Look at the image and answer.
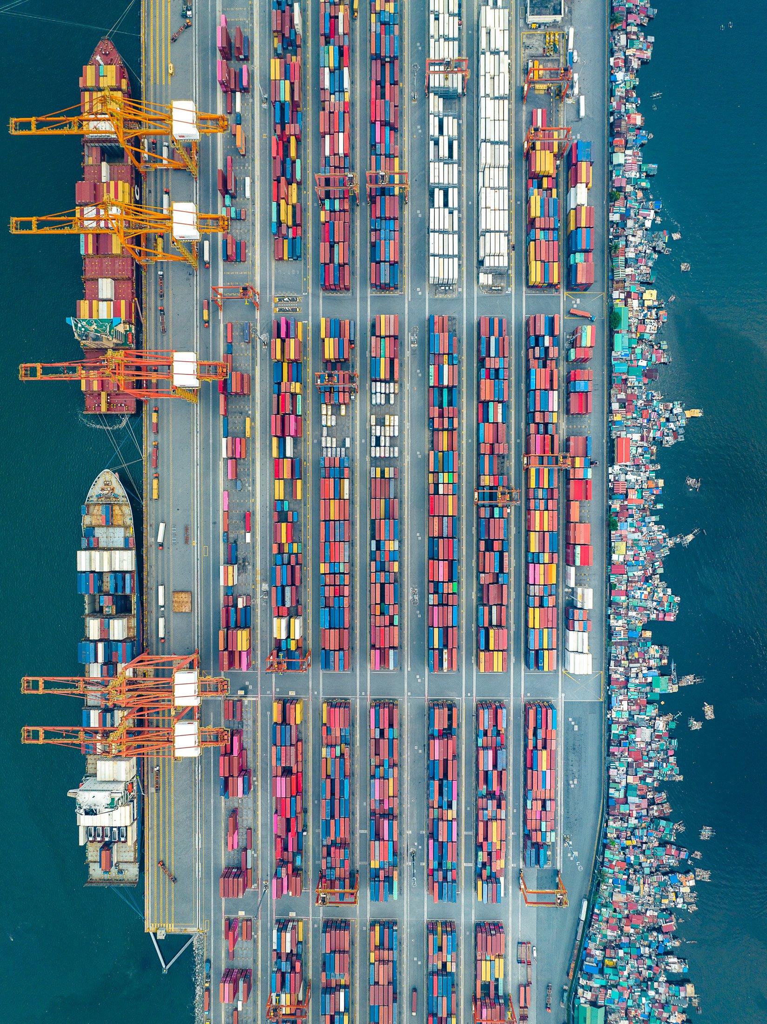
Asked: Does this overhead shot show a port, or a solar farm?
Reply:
port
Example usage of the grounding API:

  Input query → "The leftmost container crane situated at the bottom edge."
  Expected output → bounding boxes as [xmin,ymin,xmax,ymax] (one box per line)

[267,979,312,1019]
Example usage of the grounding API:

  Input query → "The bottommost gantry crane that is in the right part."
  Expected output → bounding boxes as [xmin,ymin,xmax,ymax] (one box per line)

[472,992,518,1024]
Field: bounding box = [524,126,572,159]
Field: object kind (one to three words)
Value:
container crane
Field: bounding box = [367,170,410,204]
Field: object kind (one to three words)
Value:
container crane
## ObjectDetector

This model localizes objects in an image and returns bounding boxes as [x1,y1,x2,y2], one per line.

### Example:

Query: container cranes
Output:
[521,450,572,472]
[426,57,471,96]
[22,644,230,708]
[524,126,572,159]
[524,66,574,102]
[472,992,518,1024]
[213,284,261,312]
[317,172,360,206]
[267,979,312,1019]
[20,349,229,408]
[9,90,229,187]
[317,369,360,393]
[474,486,520,507]
[8,192,229,274]
[267,648,311,674]
[20,694,230,760]
[520,869,568,905]
[367,170,410,204]
[317,869,359,905]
